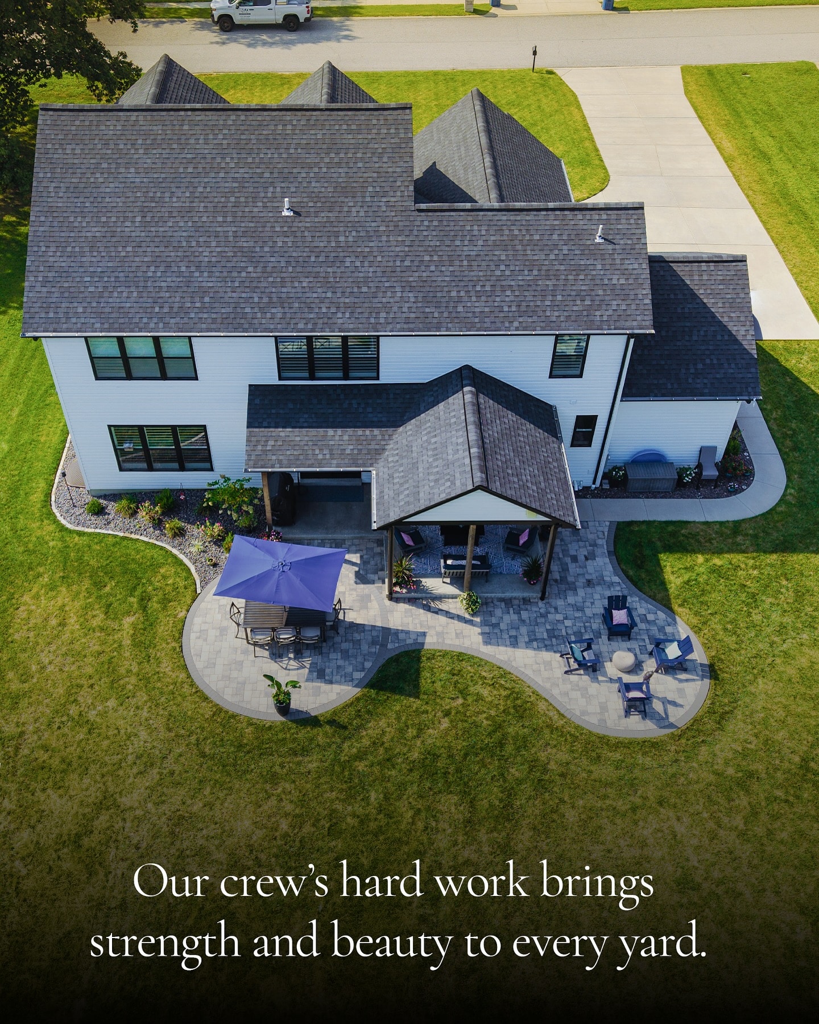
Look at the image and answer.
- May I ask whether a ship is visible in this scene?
No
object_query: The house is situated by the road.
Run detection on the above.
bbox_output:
[19,51,763,602]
